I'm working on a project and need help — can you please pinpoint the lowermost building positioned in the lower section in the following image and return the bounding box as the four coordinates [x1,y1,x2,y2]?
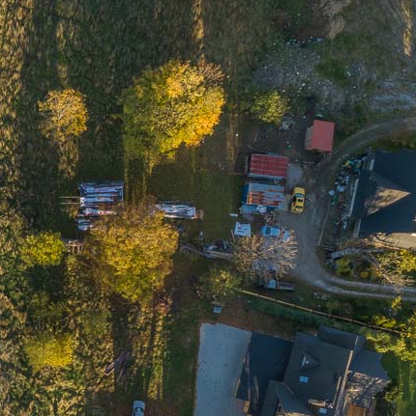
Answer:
[227,322,390,416]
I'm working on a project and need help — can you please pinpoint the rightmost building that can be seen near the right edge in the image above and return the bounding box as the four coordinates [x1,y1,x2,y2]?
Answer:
[340,151,416,256]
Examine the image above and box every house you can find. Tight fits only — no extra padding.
[340,151,416,256]
[227,322,390,416]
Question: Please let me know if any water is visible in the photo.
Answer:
No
